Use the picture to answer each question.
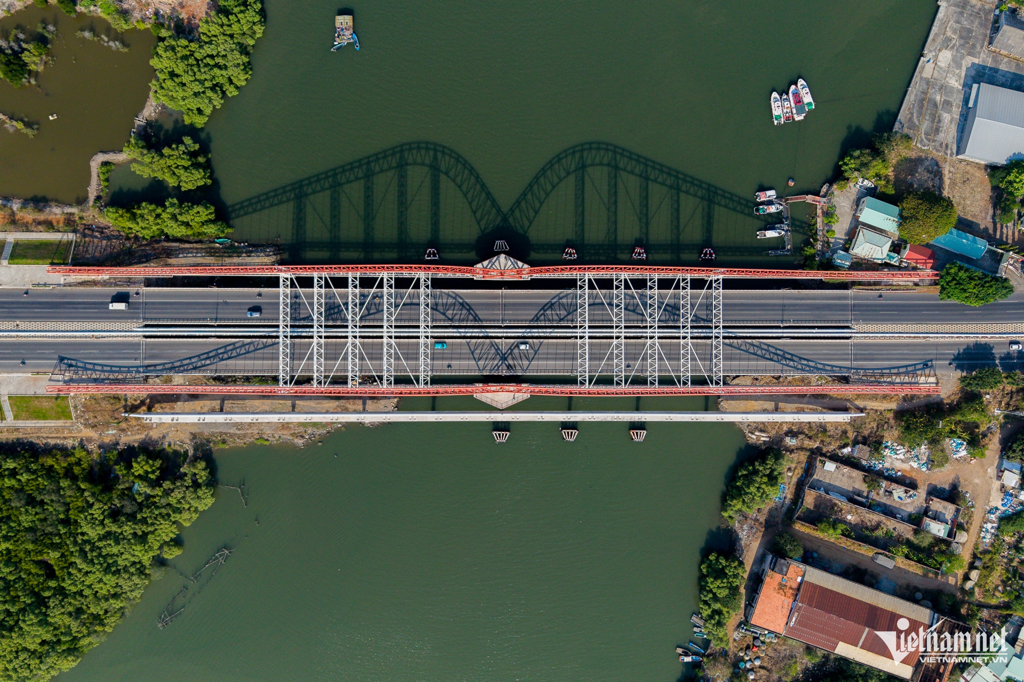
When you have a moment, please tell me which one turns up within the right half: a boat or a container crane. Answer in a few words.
boat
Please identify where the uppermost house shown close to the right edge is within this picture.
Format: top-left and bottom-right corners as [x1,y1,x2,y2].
[988,11,1024,61]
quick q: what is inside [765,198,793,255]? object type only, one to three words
pier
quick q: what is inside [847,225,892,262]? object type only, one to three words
house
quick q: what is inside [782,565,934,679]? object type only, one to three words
building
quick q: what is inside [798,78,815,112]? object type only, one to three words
boat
